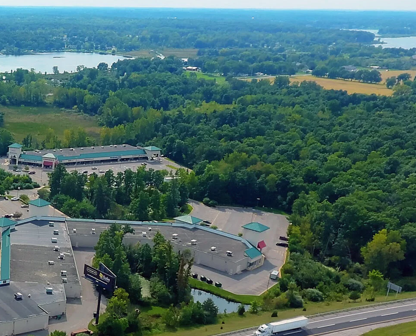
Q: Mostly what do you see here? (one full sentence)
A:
The largest share of the image is taken up by trees.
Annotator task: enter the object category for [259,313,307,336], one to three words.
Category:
truck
